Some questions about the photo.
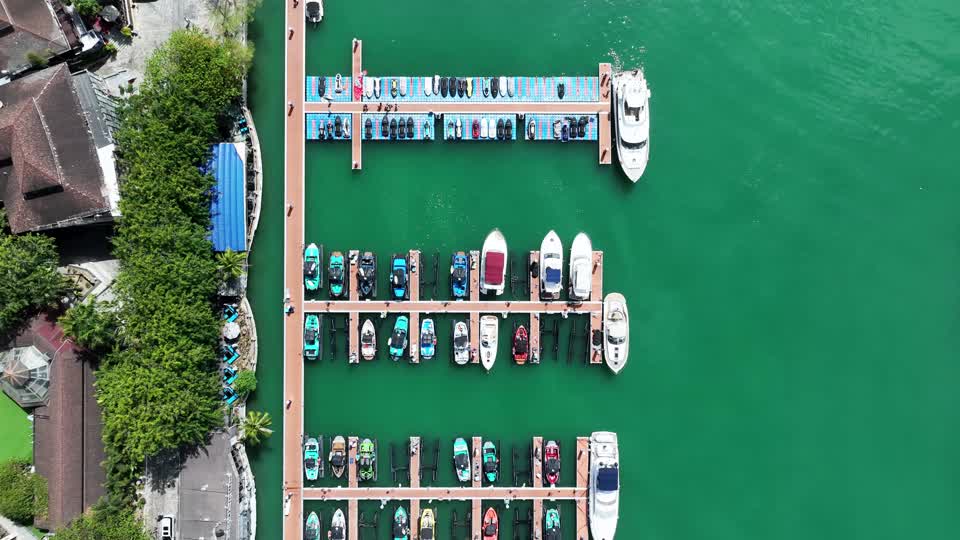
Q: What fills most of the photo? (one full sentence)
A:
The scene is dominated by water.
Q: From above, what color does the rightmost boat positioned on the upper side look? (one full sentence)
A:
In this view, the rightmost boat positioned on the upper side is white.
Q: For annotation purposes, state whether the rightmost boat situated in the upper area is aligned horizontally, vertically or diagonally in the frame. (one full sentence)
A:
The rightmost boat situated in the upper area has been laid out vertically relative to the frame.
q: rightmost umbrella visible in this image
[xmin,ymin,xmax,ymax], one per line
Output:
[224,322,241,338]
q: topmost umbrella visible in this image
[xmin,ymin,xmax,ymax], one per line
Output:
[103,6,123,24]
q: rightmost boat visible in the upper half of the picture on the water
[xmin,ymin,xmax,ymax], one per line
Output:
[609,66,652,183]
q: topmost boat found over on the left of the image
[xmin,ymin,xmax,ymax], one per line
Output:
[305,0,325,30]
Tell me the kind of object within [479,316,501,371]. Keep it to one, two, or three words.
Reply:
boat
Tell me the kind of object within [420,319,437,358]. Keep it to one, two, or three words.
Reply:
boat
